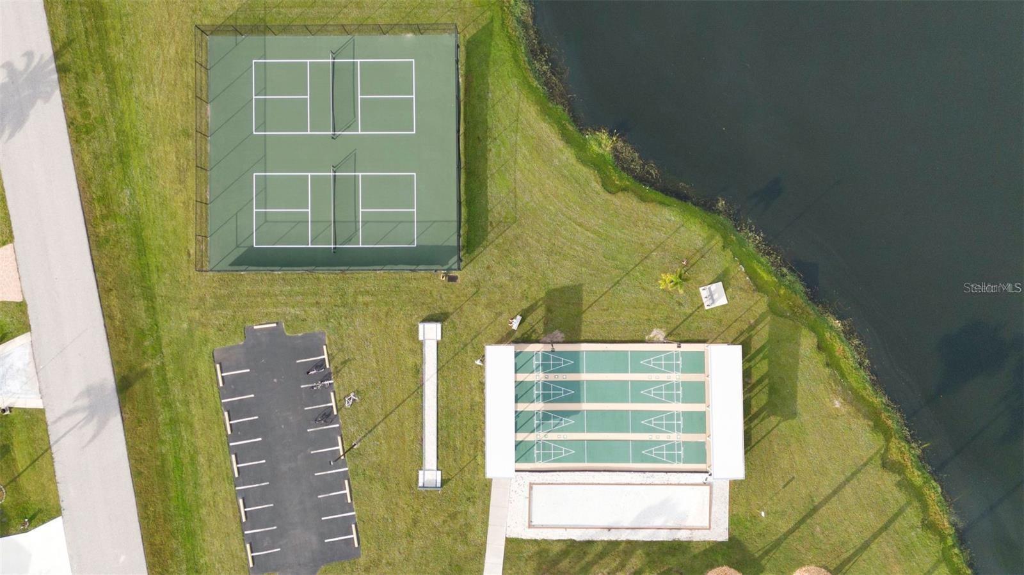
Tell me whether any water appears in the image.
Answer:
Yes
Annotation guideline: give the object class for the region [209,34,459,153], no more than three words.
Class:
sports court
